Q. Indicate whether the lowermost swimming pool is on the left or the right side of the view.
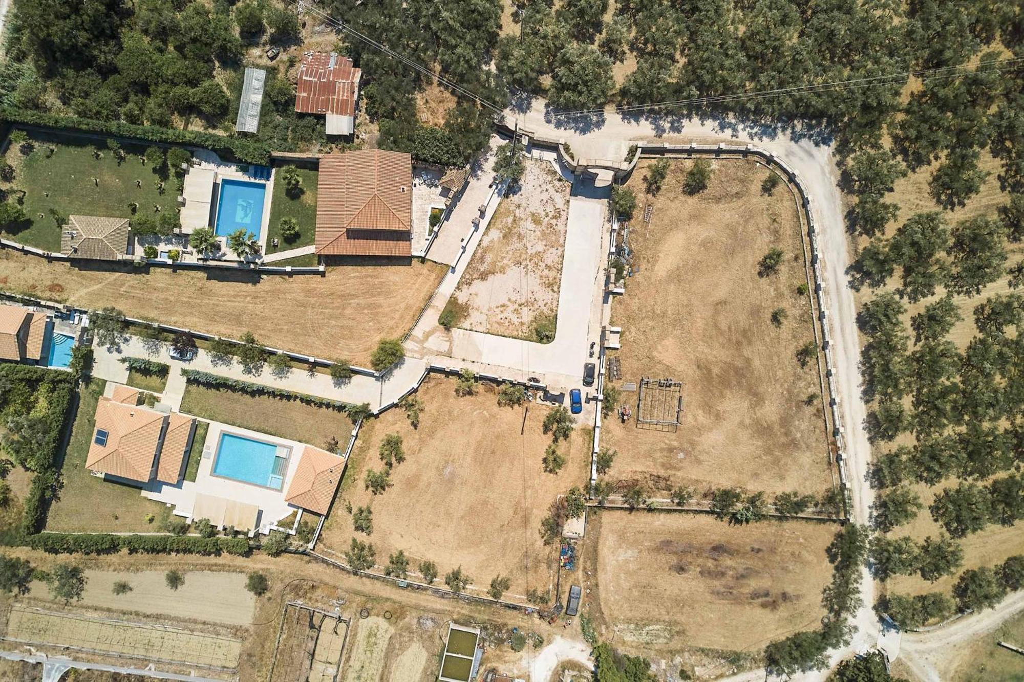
left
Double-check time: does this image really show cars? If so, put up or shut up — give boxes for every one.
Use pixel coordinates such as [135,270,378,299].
[169,348,196,362]
[570,389,583,413]
[583,362,595,386]
[566,585,581,615]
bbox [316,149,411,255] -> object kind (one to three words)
house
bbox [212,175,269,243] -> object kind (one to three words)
swimming pool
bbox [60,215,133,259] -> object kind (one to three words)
building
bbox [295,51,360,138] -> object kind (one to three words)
barn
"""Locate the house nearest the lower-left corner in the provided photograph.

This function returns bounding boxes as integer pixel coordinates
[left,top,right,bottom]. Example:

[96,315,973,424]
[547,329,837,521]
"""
[85,383,193,484]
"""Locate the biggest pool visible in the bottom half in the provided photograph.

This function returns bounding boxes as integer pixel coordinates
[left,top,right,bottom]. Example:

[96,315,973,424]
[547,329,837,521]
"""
[209,430,291,493]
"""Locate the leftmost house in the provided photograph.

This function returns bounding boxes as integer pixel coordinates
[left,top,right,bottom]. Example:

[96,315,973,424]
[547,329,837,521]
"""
[0,306,53,361]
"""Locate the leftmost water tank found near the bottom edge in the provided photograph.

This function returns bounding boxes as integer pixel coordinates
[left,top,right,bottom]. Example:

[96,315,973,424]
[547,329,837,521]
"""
[438,621,481,682]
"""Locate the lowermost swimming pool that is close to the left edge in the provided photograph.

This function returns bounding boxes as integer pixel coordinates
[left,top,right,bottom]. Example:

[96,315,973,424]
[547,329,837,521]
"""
[45,331,77,370]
